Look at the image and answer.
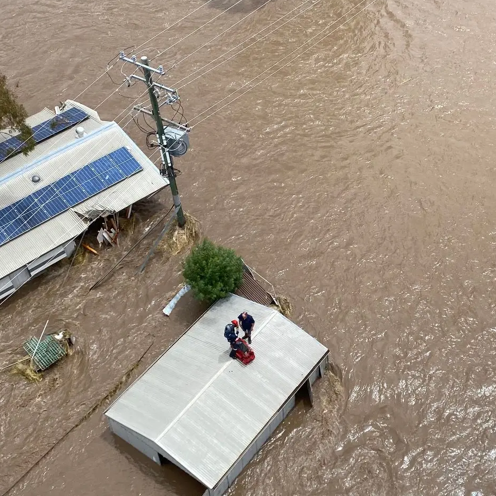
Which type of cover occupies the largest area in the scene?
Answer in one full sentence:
The largest share of the image is taken up by water.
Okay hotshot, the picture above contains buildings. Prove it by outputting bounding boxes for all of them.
[0,93,167,301]
[103,290,331,496]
